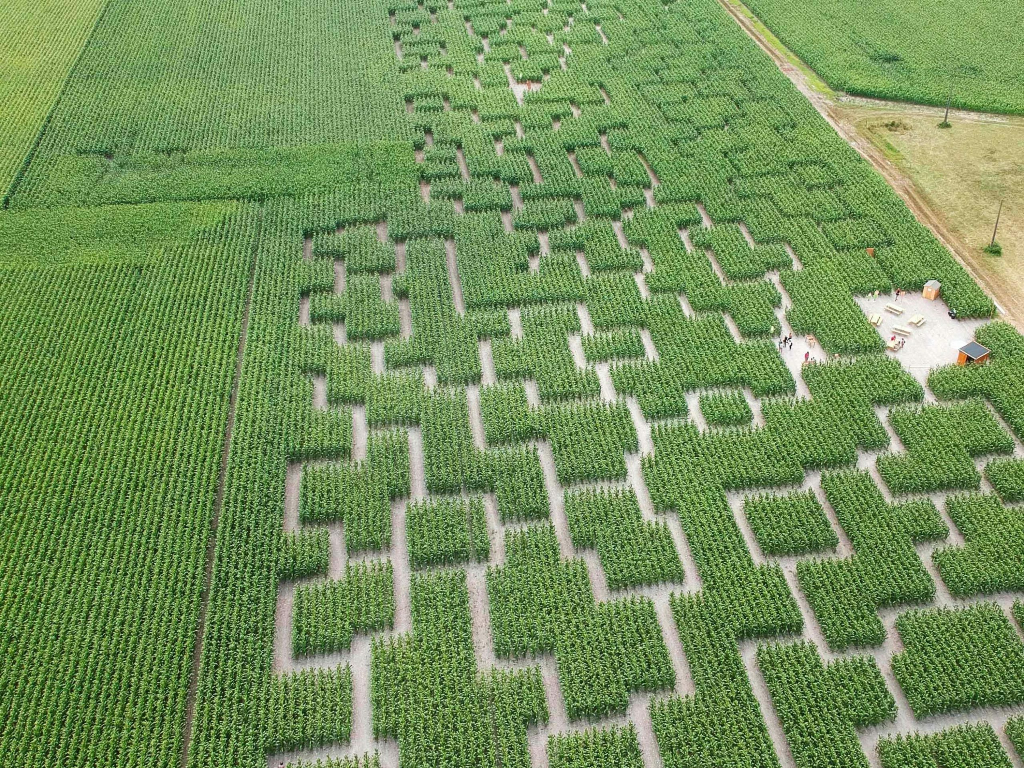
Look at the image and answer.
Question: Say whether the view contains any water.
No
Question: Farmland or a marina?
farmland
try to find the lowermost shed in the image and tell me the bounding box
[957,340,992,374]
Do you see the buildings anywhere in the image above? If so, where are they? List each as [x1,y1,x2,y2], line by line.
[957,340,992,374]
[923,278,942,301]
